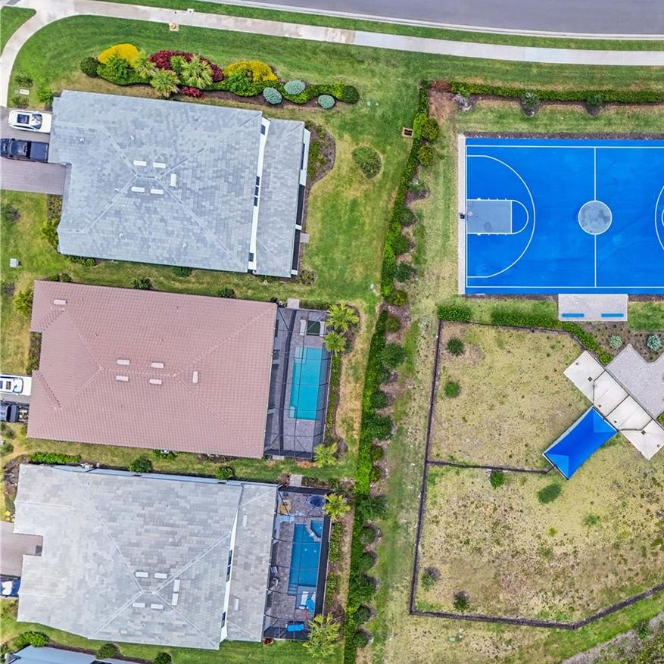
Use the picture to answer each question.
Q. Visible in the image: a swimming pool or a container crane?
swimming pool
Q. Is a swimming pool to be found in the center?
Yes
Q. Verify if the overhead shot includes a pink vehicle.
No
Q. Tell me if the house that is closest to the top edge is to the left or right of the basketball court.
to its left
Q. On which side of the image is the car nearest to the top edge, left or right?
left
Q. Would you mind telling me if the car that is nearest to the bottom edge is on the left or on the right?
left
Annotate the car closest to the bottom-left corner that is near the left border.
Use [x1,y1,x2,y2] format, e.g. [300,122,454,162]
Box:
[0,575,20,598]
